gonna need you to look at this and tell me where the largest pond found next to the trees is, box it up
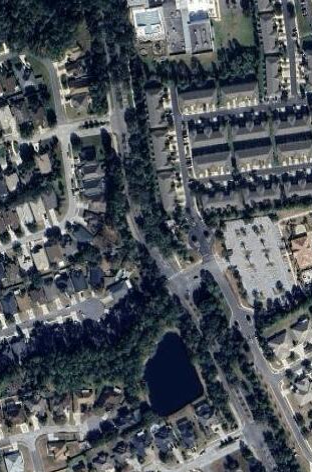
[144,332,203,415]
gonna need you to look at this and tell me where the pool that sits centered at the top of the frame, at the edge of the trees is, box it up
[135,7,166,42]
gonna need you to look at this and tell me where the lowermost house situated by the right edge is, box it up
[290,371,312,404]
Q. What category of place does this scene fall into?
residential area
